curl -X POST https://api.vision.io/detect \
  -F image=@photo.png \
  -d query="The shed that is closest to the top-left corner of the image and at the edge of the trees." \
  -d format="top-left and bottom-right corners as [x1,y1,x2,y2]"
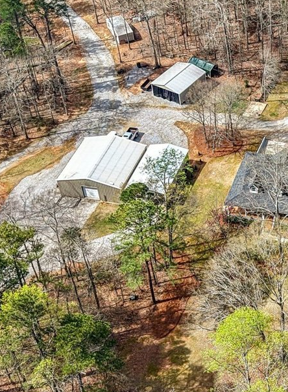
[110,14,134,45]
